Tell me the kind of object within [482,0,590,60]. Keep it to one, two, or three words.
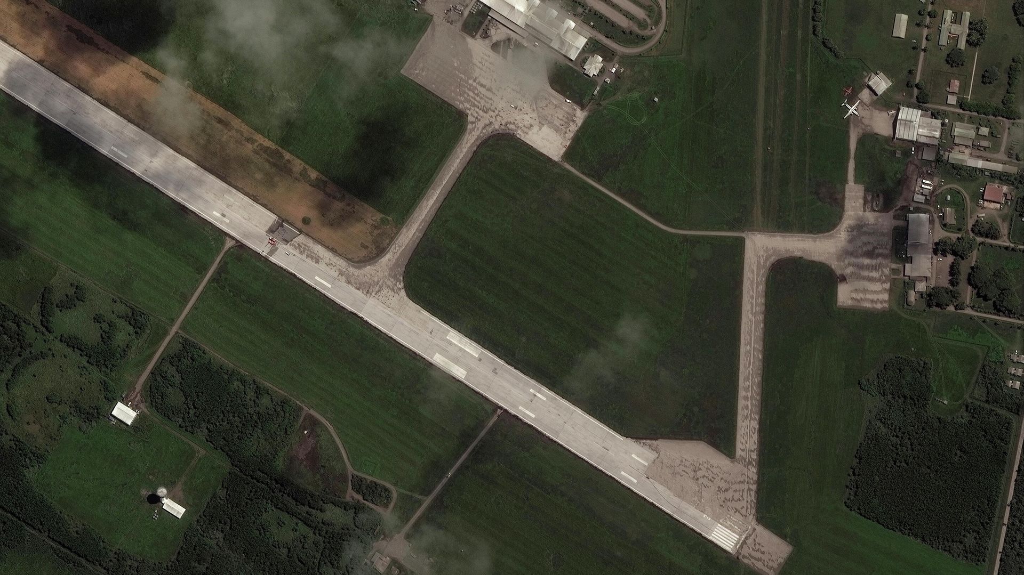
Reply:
building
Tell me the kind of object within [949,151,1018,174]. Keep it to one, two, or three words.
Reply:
building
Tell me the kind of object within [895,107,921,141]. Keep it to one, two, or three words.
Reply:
hangar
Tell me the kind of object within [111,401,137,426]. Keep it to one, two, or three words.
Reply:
shed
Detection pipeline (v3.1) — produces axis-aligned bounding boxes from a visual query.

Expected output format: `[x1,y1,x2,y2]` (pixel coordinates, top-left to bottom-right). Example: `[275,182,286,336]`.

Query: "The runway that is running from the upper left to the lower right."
[0,38,751,555]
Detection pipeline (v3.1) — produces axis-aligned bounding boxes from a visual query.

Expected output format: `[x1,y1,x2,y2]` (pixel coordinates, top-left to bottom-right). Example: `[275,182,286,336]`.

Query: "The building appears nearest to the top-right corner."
[939,9,971,49]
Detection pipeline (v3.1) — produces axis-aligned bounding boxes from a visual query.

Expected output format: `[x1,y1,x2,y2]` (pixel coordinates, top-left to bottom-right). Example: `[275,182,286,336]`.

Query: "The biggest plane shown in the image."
[841,99,859,118]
